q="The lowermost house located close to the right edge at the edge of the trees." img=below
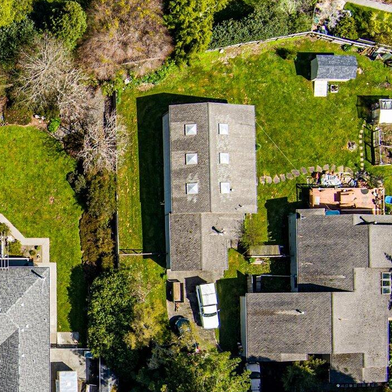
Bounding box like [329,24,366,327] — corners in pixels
[238,209,392,383]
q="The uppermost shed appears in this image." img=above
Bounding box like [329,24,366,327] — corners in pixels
[300,56,356,96]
